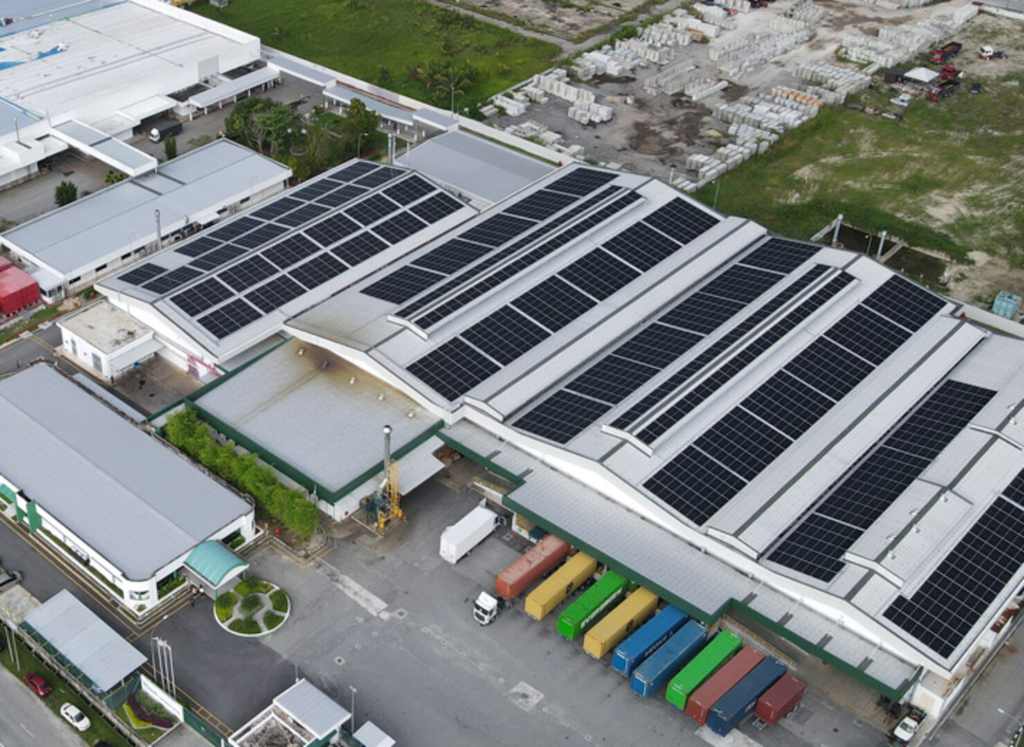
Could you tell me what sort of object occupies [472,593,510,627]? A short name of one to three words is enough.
truck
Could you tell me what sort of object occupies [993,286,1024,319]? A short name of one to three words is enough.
storage tank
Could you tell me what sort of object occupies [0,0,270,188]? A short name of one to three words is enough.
building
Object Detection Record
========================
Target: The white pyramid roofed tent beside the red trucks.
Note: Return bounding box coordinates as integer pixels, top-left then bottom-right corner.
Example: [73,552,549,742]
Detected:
[901,65,939,90]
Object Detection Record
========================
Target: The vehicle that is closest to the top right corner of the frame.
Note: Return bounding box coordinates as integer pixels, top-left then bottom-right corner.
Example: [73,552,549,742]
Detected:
[982,44,1007,62]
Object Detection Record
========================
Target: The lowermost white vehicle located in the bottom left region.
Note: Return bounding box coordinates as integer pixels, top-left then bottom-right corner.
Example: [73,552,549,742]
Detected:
[61,702,93,734]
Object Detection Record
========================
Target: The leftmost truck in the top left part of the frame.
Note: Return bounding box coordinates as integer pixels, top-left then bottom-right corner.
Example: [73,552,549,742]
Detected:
[147,115,185,141]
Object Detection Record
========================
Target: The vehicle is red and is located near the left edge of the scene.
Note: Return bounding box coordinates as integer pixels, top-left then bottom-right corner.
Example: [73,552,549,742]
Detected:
[24,671,55,700]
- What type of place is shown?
industrial area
